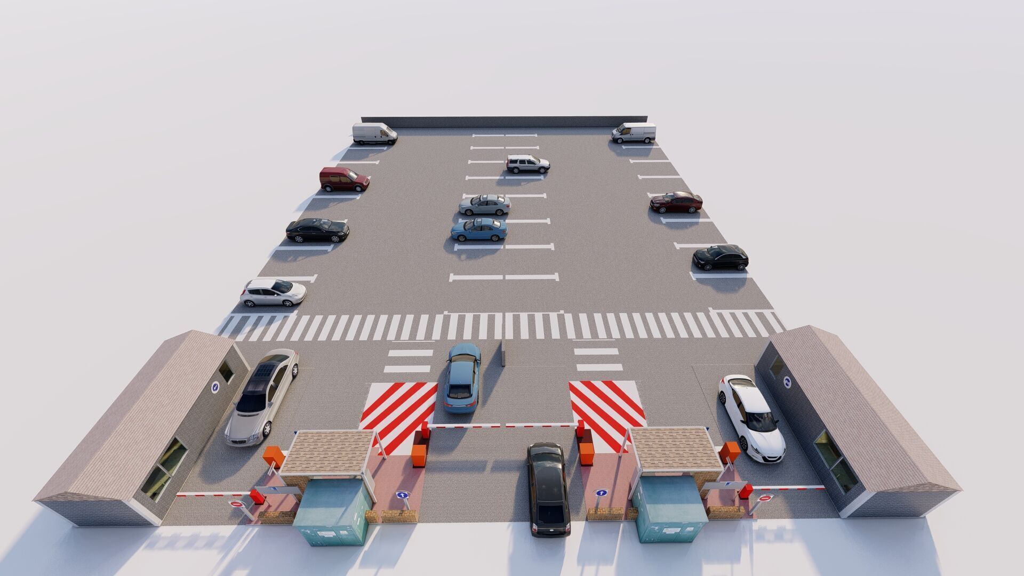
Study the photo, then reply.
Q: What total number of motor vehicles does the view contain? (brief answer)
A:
14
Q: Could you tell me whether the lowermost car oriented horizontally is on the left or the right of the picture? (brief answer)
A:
left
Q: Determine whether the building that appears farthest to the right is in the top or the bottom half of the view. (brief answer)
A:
bottom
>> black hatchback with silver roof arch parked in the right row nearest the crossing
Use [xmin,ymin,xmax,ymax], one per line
[692,245,749,270]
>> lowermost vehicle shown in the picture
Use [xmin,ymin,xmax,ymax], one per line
[525,443,573,539]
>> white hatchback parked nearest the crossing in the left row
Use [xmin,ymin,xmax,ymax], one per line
[239,279,307,308]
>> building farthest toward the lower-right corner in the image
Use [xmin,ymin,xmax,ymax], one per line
[756,325,964,518]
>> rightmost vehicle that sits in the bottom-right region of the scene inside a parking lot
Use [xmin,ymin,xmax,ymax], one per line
[718,375,789,465]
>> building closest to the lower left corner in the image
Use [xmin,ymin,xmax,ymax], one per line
[30,329,252,528]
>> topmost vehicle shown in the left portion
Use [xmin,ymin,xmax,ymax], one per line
[352,122,399,145]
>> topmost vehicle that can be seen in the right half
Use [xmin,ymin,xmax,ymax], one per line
[611,123,657,144]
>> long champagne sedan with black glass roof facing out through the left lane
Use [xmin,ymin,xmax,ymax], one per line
[223,349,301,448]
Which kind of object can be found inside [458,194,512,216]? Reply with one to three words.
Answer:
car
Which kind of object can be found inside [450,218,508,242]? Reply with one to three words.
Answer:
car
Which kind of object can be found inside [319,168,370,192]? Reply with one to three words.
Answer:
vehicle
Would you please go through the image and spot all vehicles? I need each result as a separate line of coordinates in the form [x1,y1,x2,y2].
[692,245,749,270]
[319,168,370,192]
[286,219,350,243]
[507,153,551,174]
[223,349,301,448]
[443,342,482,412]
[718,375,789,465]
[458,194,512,216]
[525,443,573,539]
[650,192,703,213]
[611,123,657,144]
[239,279,307,308]
[450,218,508,242]
[352,122,399,145]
